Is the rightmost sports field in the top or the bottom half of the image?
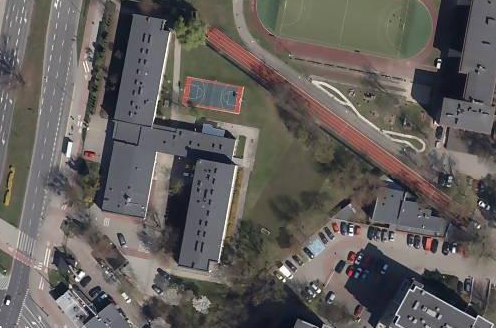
top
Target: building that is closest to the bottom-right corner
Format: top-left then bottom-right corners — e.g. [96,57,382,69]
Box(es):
[394,286,495,328]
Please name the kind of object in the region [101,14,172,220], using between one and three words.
building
